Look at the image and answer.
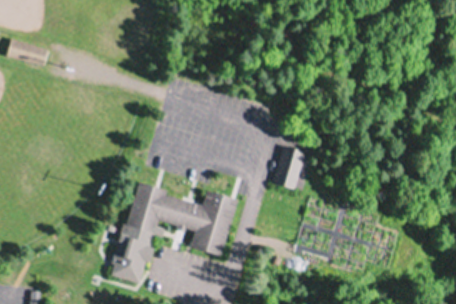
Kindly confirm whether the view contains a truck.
No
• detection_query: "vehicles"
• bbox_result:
[148,280,154,289]
[156,284,161,292]
[271,160,276,170]
[190,169,195,178]
[155,158,160,168]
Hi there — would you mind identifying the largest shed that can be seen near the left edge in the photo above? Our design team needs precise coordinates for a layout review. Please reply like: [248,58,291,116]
[6,39,50,68]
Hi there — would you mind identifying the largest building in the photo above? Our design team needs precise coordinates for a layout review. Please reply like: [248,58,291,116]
[109,184,238,286]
